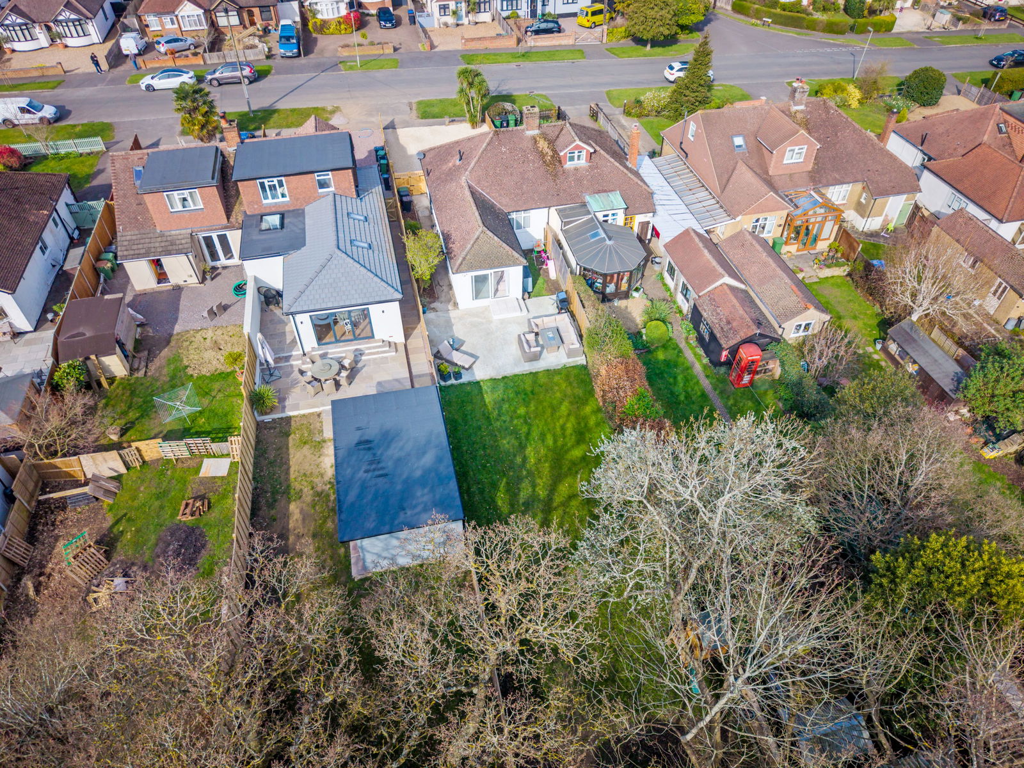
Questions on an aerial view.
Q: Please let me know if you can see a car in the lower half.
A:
No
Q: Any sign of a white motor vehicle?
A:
Yes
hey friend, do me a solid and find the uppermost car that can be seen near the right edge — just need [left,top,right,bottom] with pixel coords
[987,2,1010,21]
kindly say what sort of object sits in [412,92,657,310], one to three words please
house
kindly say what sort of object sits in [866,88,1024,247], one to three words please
house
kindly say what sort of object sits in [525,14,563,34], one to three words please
car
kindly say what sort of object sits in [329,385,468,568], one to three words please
building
